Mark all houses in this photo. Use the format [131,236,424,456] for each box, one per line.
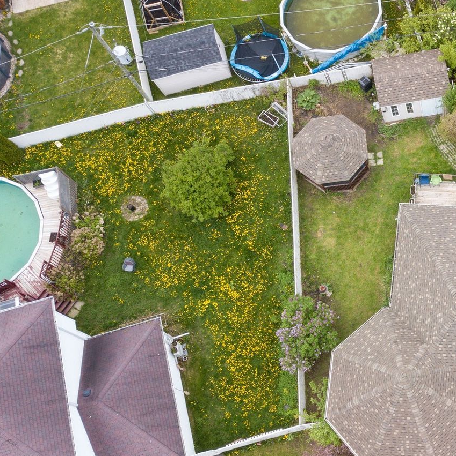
[324,201,456,456]
[0,293,194,456]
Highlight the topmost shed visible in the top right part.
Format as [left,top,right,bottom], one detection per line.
[371,47,451,126]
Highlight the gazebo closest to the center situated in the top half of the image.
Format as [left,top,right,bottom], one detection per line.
[291,115,372,197]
